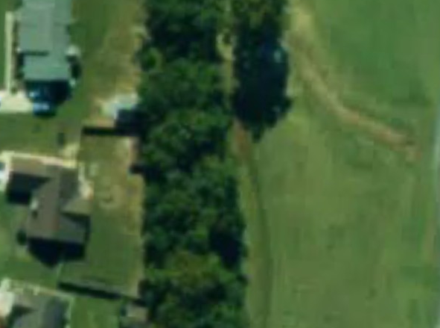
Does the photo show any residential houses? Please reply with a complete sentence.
Yes, this view includes a residential house.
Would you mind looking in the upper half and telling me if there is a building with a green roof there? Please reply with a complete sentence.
Yes, a building with a green roof can be seen in the upper half.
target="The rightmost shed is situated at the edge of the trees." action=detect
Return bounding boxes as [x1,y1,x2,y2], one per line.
[114,109,134,133]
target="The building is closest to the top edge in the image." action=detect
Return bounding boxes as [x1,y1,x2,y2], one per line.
[17,0,80,81]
